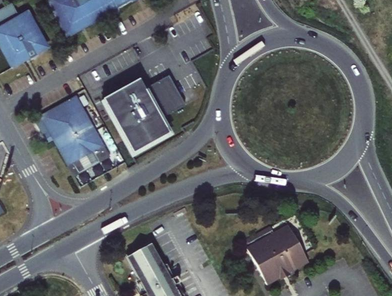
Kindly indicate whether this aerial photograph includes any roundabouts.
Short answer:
Yes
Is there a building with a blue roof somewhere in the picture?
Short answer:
Yes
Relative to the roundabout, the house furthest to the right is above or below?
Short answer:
below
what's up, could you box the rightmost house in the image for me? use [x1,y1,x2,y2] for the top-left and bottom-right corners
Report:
[246,220,308,286]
